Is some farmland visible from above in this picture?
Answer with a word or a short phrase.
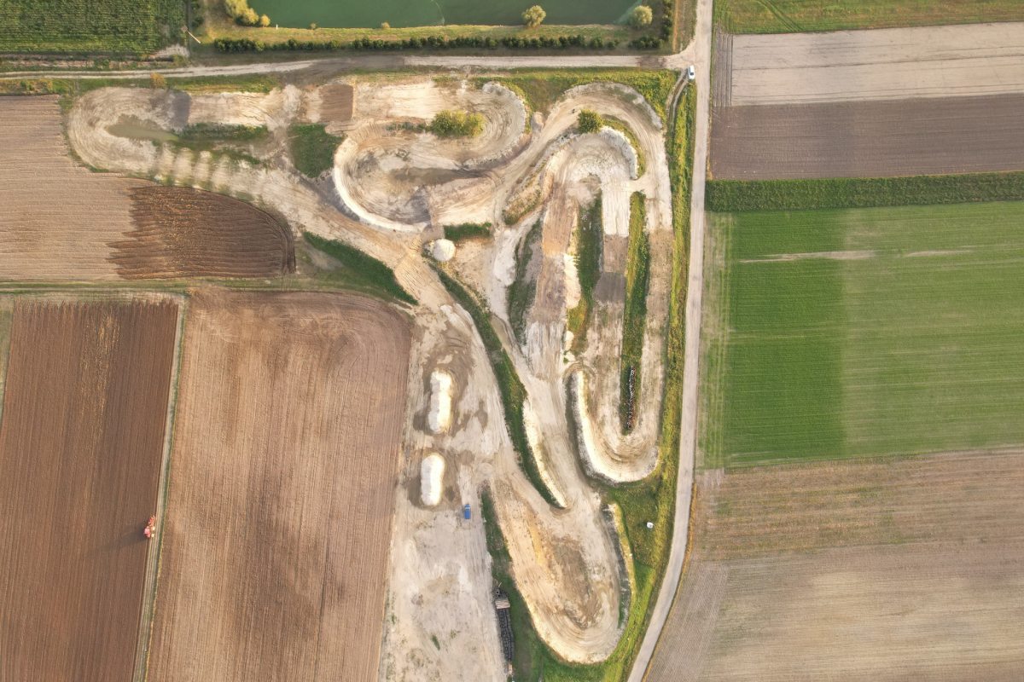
Yes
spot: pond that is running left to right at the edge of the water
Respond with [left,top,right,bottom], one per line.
[255,0,641,29]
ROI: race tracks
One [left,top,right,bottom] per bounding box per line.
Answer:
[68,78,673,682]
